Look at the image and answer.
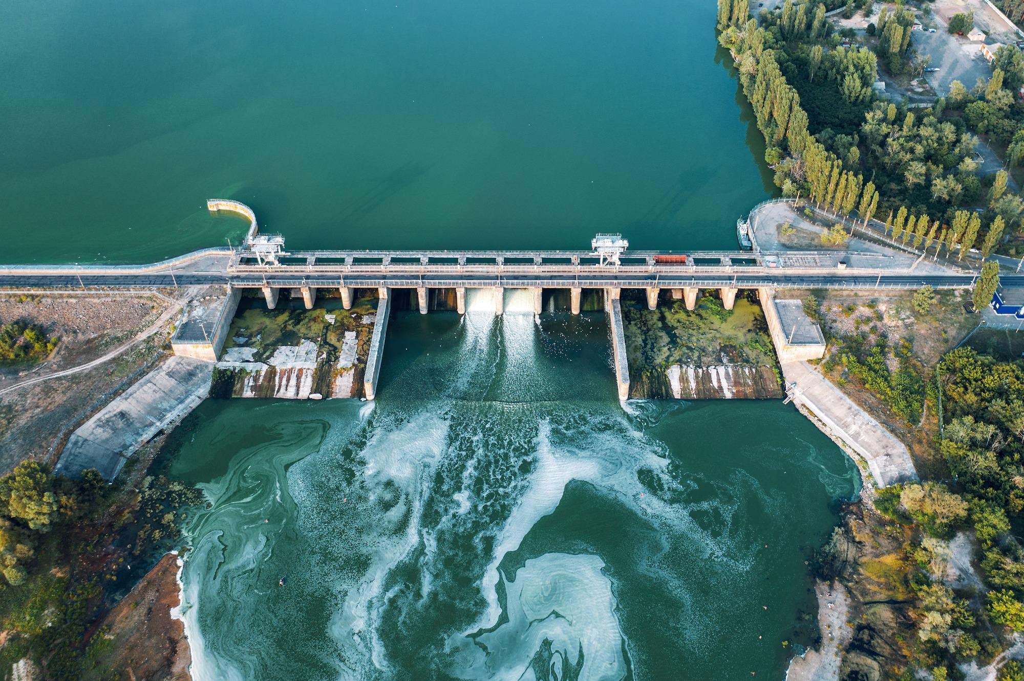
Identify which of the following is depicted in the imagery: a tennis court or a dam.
dam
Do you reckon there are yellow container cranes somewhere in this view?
No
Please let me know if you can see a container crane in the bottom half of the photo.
No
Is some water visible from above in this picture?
Yes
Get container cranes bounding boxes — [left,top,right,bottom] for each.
[249,230,287,265]
[594,230,630,265]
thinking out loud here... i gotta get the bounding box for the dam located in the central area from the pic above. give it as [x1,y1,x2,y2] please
[224,247,880,314]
